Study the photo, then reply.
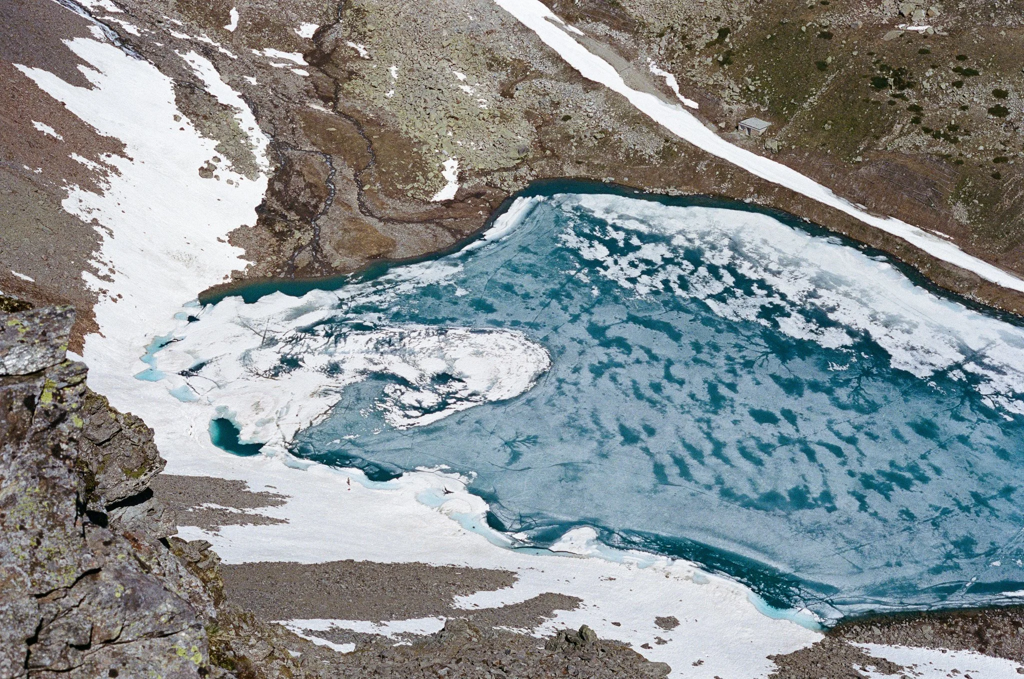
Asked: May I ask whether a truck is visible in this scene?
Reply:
No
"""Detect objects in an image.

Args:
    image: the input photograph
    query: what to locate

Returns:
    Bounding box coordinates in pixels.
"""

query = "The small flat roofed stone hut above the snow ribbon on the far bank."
[739,119,769,142]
